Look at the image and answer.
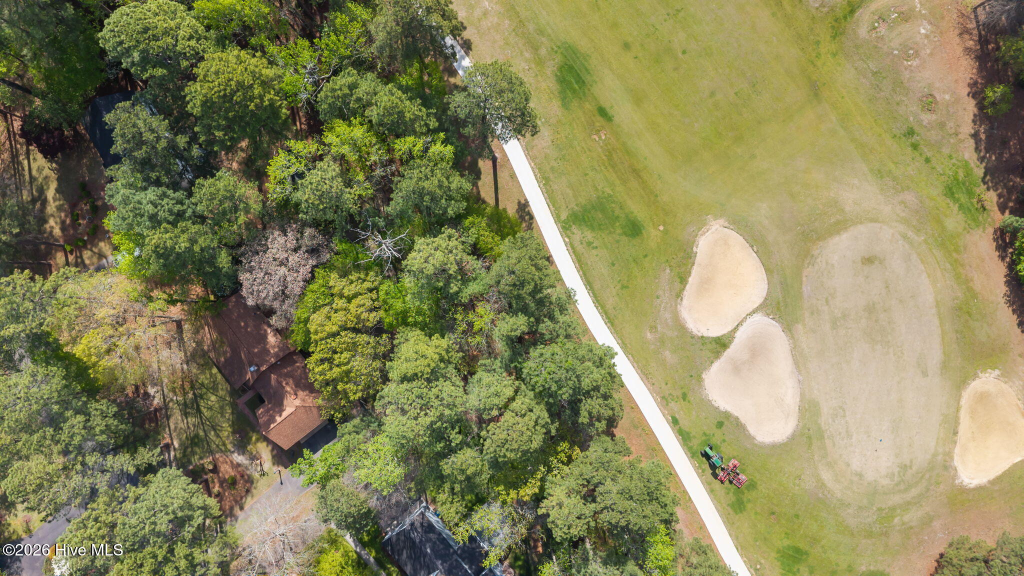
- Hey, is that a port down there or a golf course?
golf course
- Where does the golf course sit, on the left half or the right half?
right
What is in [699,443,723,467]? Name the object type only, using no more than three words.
work vehicle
